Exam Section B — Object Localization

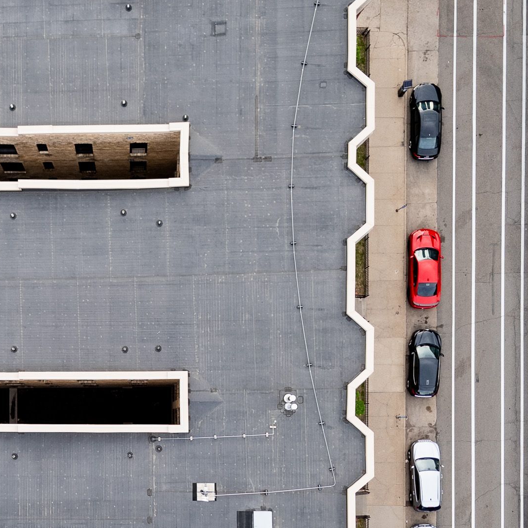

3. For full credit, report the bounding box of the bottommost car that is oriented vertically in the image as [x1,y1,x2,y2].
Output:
[408,437,446,513]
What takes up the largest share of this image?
buildings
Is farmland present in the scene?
No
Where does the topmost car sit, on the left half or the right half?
right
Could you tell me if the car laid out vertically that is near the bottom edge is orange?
No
